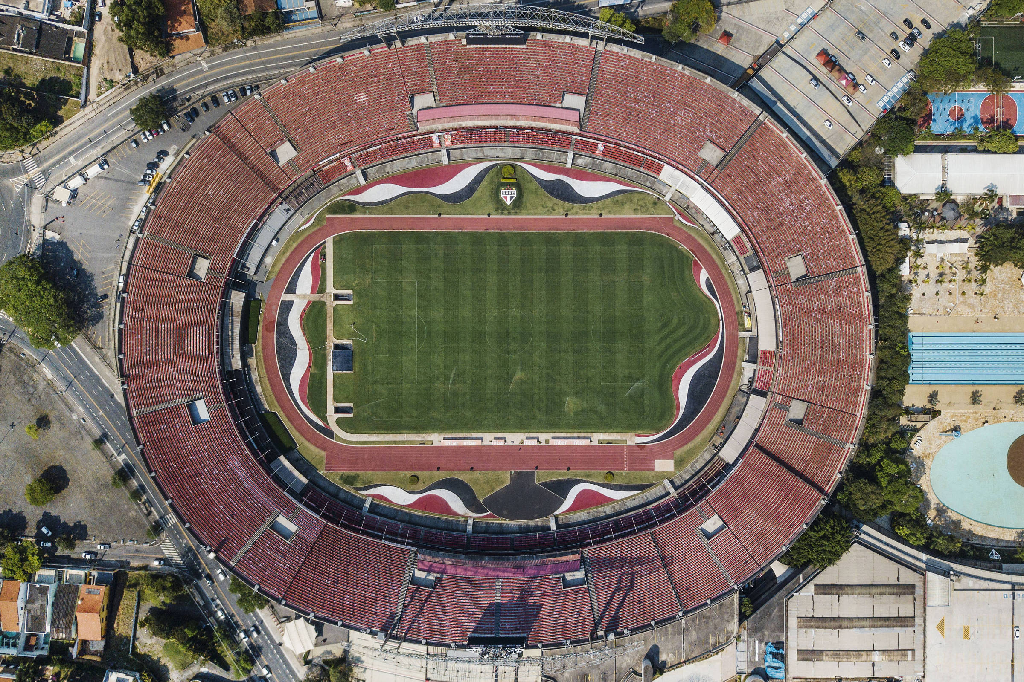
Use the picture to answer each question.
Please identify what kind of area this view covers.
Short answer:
sports ground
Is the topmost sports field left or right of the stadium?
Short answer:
to the right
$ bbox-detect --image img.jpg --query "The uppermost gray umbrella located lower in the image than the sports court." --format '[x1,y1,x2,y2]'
[942,201,959,218]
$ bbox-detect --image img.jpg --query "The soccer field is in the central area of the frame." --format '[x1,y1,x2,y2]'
[303,231,719,444]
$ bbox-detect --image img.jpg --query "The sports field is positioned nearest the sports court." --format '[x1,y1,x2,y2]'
[974,22,1024,79]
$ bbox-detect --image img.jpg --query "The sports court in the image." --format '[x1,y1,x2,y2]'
[914,90,1024,136]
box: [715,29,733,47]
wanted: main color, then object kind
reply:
red gazebo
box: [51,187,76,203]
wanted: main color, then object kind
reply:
white vehicle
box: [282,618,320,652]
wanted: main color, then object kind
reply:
white tent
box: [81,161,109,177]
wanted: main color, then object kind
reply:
white vehicle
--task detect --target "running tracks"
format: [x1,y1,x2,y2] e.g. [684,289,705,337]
[262,214,739,471]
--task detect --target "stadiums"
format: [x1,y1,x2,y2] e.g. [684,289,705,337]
[119,26,881,655]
